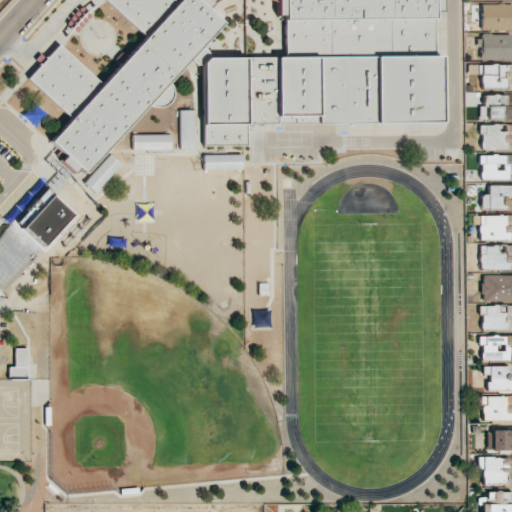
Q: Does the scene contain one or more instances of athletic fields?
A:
Yes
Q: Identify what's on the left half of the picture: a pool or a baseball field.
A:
baseball field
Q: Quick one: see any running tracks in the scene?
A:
Yes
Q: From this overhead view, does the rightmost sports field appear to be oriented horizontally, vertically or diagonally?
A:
vertically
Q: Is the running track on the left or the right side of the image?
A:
right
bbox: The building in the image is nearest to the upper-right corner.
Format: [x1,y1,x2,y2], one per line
[482,3,512,31]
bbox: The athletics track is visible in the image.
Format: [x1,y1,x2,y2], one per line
[284,164,454,500]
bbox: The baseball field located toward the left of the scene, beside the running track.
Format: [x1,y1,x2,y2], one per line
[50,258,283,492]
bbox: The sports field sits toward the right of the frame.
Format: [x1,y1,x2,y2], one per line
[298,177,442,487]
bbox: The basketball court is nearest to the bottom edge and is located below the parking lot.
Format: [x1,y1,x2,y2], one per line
[0,384,31,461]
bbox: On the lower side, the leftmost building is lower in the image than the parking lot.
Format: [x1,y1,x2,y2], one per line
[10,346,30,379]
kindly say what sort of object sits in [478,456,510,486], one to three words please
house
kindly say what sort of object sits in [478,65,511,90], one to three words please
house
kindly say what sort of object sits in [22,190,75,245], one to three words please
building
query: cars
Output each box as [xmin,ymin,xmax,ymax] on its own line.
[44,0,52,8]
[19,27,28,36]
[26,20,34,28]
[0,148,9,156]
[6,152,14,160]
